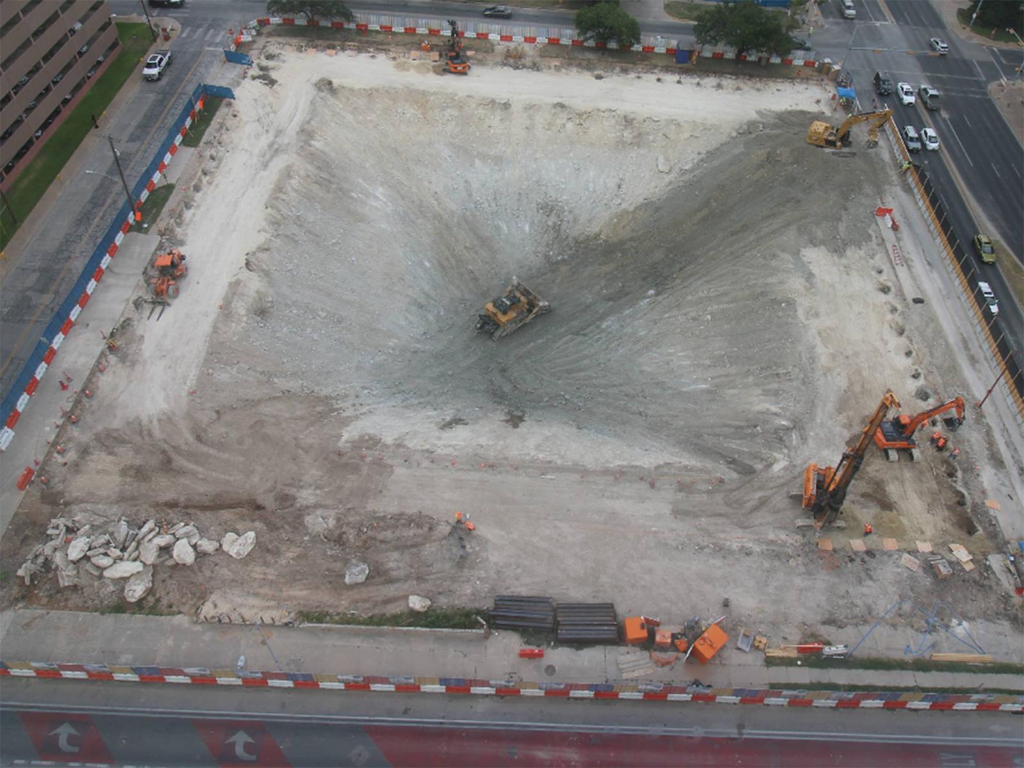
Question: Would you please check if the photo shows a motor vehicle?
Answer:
Yes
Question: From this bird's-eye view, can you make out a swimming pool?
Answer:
No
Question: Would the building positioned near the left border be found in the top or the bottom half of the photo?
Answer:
top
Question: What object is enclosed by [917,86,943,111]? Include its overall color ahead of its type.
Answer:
gray truck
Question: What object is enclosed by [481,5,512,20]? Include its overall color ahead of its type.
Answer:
gray car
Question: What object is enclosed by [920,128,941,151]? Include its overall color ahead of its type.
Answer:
white car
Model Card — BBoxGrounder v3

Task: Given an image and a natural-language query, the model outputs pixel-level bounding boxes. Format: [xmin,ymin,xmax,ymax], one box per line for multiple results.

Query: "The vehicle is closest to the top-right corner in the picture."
[929,37,951,56]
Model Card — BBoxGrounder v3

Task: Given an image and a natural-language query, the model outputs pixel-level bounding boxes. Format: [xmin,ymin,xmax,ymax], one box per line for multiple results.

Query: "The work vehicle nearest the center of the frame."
[476,266,557,332]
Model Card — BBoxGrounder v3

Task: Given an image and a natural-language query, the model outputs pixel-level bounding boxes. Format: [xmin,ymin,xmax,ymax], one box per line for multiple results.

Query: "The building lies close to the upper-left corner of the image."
[0,0,131,191]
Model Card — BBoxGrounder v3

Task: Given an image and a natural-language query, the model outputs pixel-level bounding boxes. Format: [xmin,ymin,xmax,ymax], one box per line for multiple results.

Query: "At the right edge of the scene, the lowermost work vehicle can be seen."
[872,406,973,456]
